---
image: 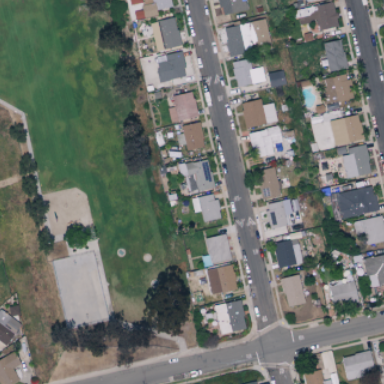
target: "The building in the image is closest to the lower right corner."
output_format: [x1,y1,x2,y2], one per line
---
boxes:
[344,352,376,382]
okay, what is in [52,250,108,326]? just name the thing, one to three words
sports court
